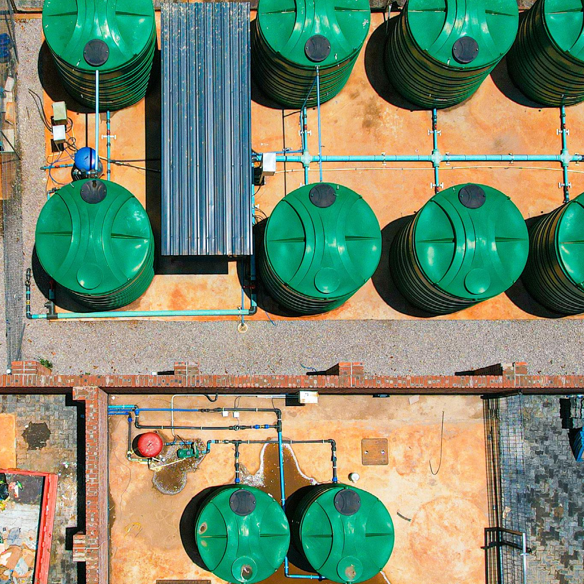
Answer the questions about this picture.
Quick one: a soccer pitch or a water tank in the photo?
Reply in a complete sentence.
Looking from above, you can make out a water tank.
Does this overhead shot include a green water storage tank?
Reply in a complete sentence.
Yes, looking at the shot, I can spot a green water storage tank.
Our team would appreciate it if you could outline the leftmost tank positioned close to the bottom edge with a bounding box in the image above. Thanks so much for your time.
[195,482,289,584]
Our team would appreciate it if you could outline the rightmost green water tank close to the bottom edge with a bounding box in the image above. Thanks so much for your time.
[291,482,394,584]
